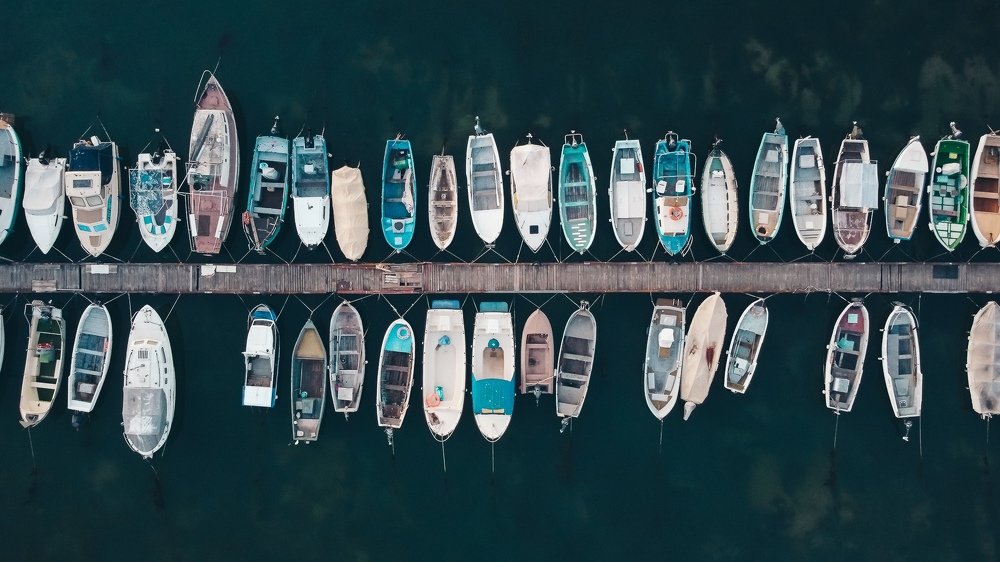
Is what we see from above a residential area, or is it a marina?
marina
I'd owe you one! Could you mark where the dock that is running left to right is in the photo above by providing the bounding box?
[0,262,1000,294]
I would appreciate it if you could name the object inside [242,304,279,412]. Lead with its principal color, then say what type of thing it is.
white boat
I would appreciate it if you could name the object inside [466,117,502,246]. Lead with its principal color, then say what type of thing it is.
white boat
